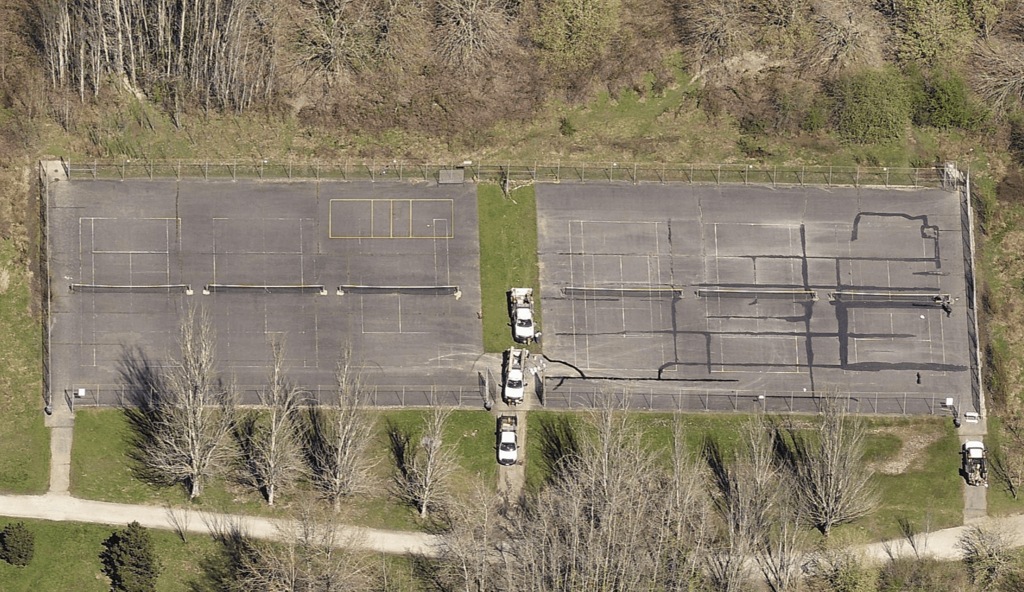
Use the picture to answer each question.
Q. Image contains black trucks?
No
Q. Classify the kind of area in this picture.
sports ground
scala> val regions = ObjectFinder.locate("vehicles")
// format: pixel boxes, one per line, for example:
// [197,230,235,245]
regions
[512,291,537,345]
[496,416,521,466]
[963,443,988,489]
[504,351,528,406]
